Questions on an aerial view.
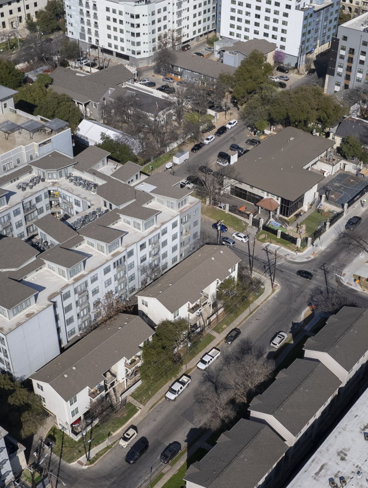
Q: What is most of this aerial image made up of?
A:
buildings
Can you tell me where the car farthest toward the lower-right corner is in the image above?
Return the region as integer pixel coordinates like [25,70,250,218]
[269,332,290,350]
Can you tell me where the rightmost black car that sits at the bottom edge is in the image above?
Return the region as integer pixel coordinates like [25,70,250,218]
[157,440,186,467]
